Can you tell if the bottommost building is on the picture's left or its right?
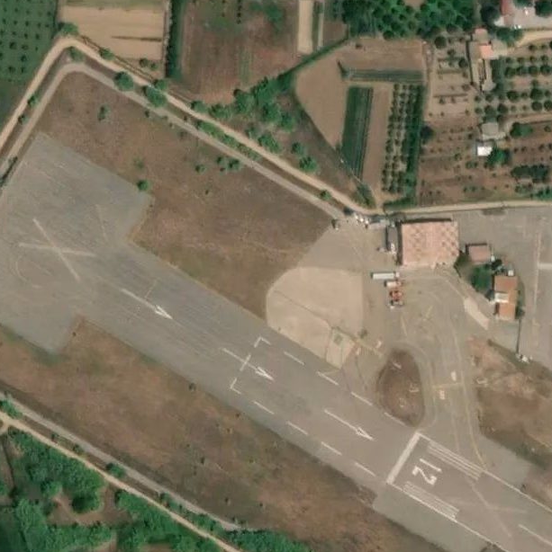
right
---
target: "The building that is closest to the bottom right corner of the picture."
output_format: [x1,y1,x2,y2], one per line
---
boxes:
[495,275,517,320]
